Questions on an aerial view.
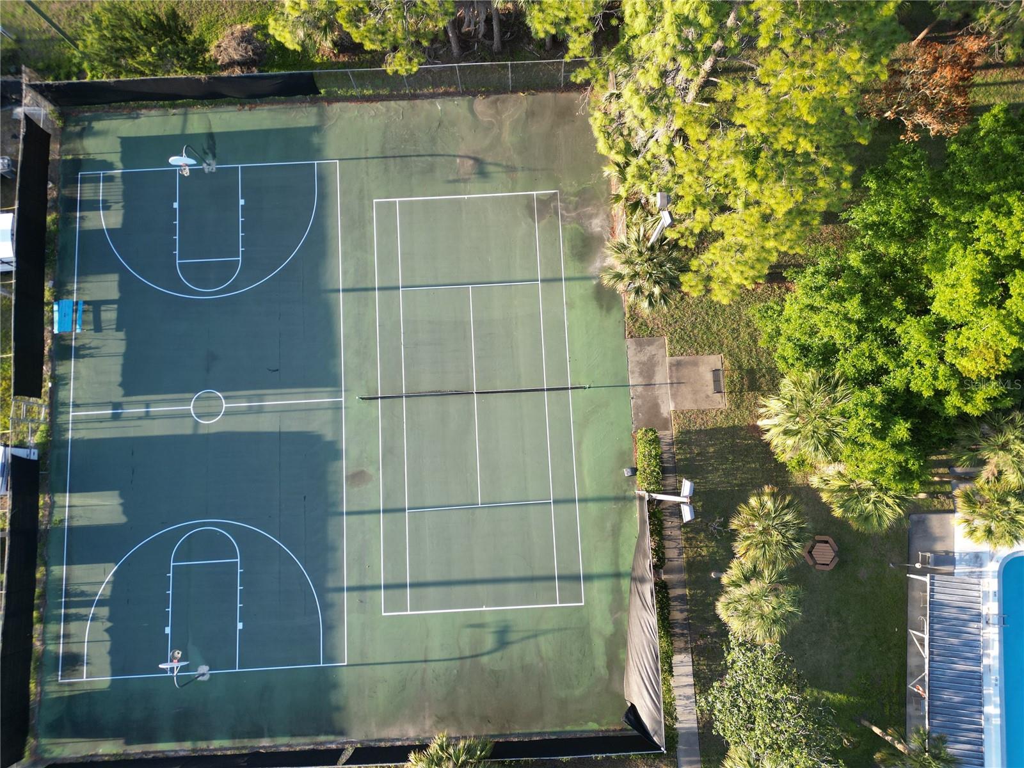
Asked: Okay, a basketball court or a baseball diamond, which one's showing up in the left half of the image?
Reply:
basketball court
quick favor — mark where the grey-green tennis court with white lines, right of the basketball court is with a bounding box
[374,191,584,614]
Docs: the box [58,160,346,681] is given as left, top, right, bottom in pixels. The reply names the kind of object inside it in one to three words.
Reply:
basketball court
